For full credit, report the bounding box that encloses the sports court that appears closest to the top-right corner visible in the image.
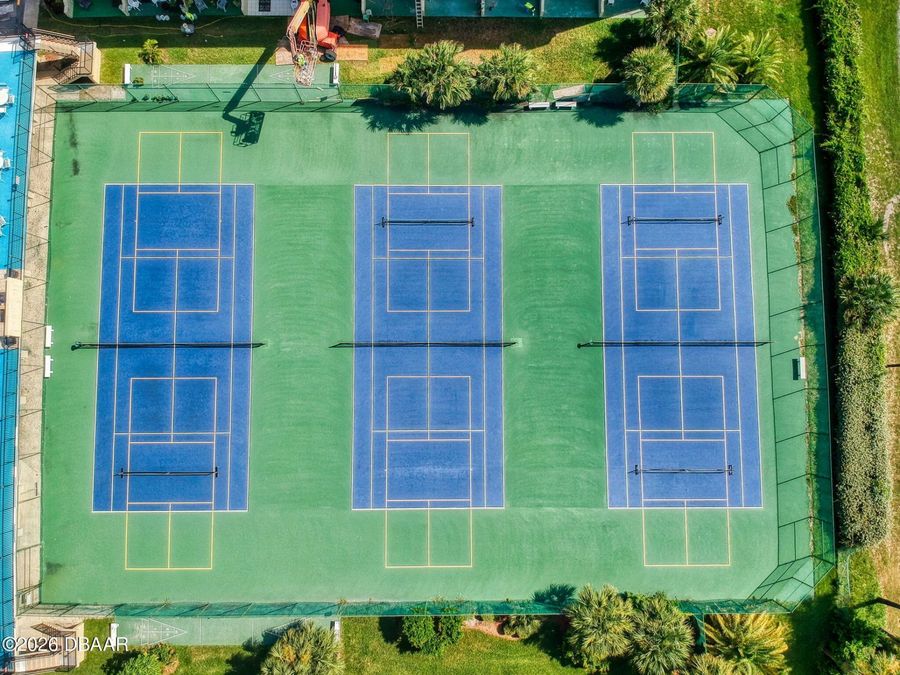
[632,132,721,310]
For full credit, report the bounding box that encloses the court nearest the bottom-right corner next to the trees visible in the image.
[639,376,730,566]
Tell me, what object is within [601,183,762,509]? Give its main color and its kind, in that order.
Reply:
blue tennis court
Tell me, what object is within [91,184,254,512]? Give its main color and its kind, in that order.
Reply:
blue tennis court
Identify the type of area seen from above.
sports ground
